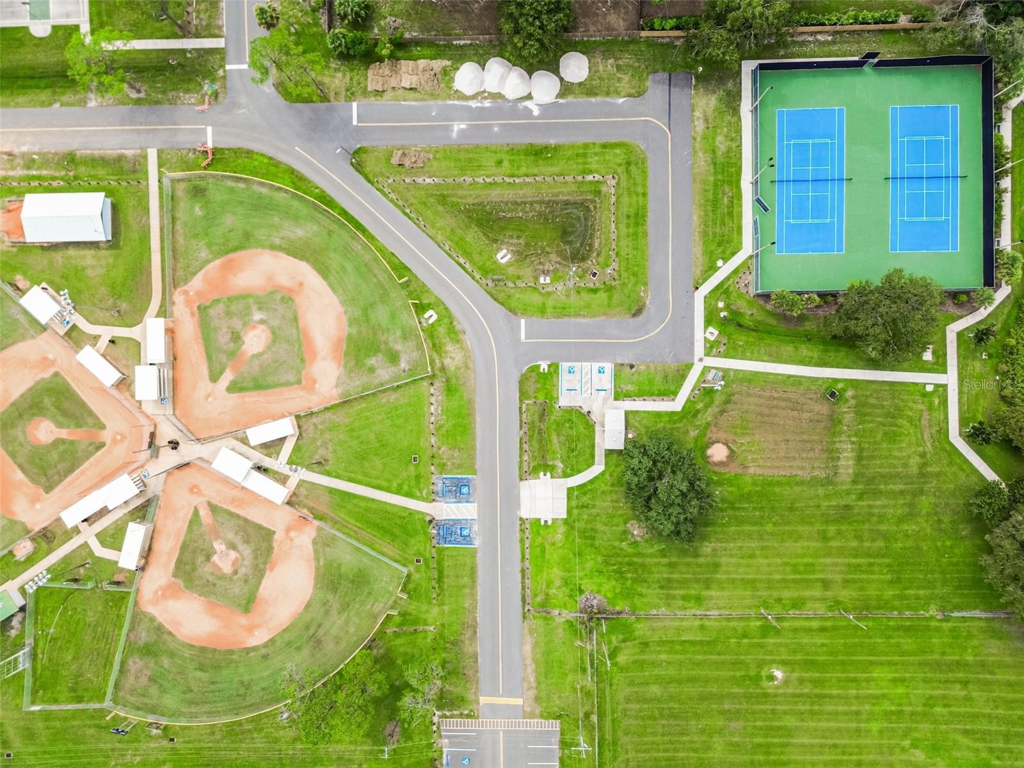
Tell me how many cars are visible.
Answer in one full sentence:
Not a single car can be seen.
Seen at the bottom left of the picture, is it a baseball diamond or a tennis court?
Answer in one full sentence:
There is a baseball diamond at the bottom left of the picture.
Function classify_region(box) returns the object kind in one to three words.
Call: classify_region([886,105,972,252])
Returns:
tennis court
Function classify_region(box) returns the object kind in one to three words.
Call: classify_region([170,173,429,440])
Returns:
baseball field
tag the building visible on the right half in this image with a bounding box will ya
[605,410,627,450]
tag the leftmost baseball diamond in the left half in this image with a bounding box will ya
[0,290,155,551]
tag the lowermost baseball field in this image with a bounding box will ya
[112,458,405,718]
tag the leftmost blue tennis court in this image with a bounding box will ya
[770,107,856,253]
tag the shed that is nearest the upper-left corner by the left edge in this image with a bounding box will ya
[14,192,110,242]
